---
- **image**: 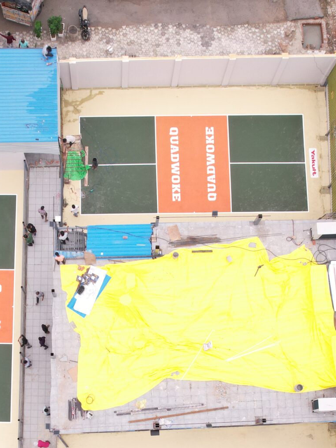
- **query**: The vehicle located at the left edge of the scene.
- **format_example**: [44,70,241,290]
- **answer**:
[2,0,39,30]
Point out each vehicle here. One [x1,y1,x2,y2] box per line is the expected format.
[2,0,39,30]
[80,2,95,39]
